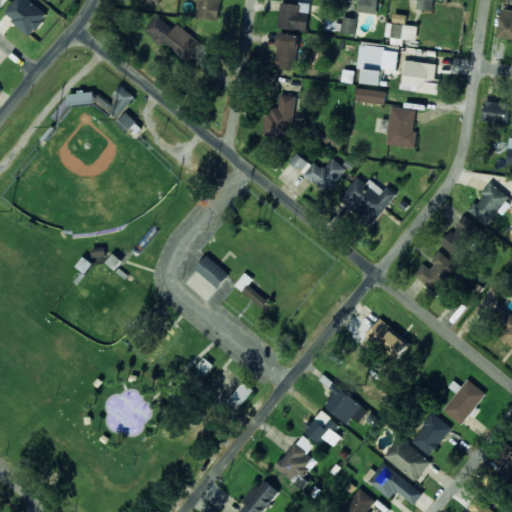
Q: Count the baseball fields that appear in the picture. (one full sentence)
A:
Looking from above, you can make out 2 baseball fields.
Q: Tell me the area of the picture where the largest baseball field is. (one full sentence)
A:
The largest baseball field is located in the left region of the scene.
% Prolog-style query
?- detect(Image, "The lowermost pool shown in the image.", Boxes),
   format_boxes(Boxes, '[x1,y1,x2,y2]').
[378,432,394,452]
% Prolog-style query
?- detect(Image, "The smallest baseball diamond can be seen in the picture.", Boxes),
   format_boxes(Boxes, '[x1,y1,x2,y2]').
[60,114,116,176]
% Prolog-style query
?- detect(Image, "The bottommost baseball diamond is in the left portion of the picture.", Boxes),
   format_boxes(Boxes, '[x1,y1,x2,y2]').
[52,266,132,342]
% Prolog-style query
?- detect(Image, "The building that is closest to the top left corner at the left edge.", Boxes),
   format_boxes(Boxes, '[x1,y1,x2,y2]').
[4,0,48,34]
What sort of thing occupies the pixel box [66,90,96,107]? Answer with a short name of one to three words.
building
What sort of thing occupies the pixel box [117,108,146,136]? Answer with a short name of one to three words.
building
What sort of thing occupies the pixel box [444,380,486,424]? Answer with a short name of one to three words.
house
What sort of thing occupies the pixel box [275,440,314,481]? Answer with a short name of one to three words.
house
